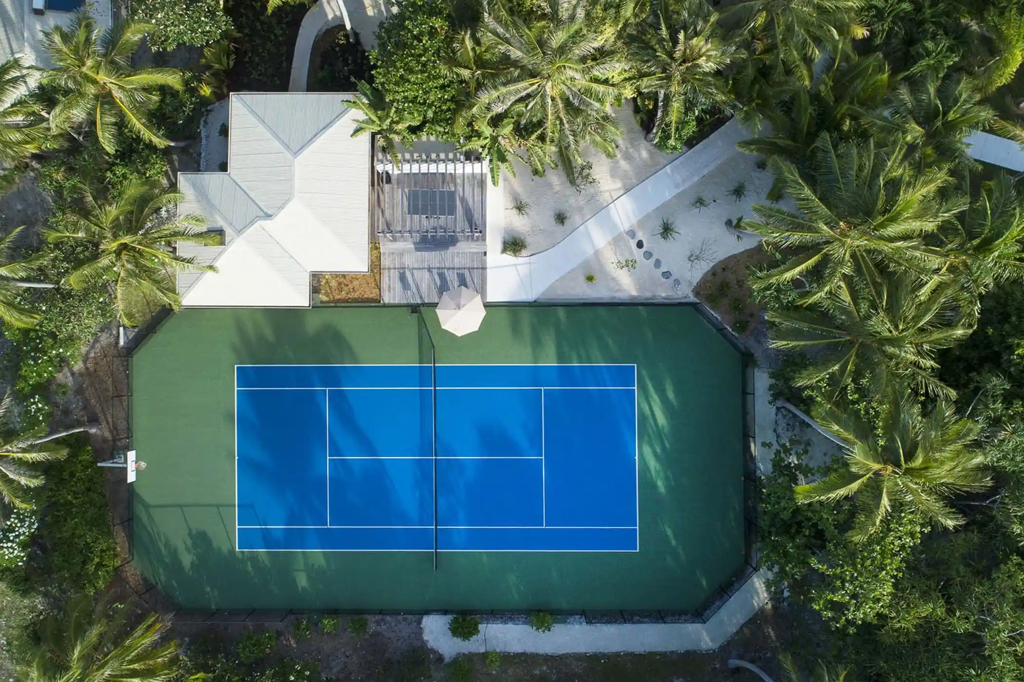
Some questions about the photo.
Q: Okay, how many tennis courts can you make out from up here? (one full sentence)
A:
Just 1 tennis court appears in this view.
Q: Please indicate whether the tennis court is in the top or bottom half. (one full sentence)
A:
You can find the tennis court in the bottom half.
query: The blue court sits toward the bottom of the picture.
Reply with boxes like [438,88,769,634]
[132,305,745,610]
